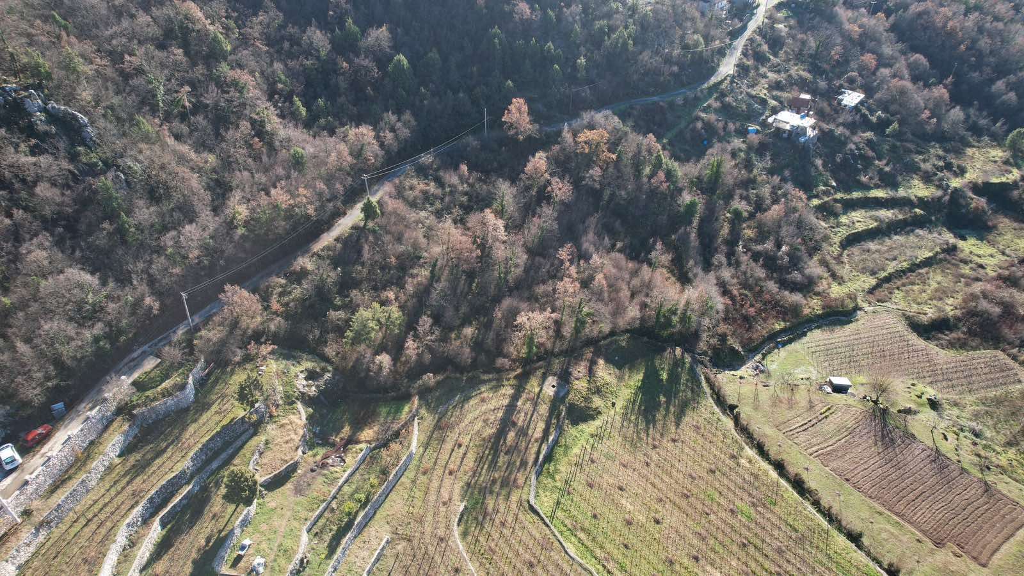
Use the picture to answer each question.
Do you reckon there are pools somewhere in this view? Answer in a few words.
No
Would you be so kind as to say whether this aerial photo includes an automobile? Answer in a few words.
Yes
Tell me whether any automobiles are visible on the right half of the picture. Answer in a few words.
No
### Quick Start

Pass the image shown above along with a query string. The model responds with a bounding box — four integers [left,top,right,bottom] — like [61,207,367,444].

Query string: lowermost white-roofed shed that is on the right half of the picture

[827,376,852,393]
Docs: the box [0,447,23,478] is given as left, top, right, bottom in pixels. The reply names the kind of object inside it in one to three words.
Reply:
car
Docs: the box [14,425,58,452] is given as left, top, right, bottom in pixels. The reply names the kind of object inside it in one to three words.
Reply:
car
